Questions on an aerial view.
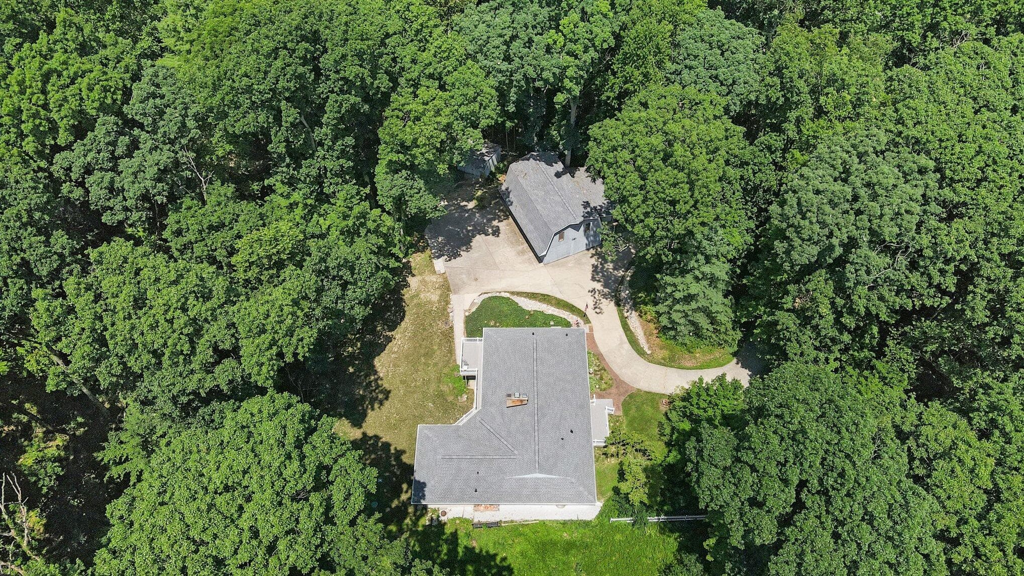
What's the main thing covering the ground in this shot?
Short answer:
trees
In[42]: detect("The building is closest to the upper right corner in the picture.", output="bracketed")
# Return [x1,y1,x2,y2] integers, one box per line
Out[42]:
[498,152,631,264]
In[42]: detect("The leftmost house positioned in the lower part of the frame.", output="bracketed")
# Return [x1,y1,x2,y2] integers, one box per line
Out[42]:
[411,327,598,506]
